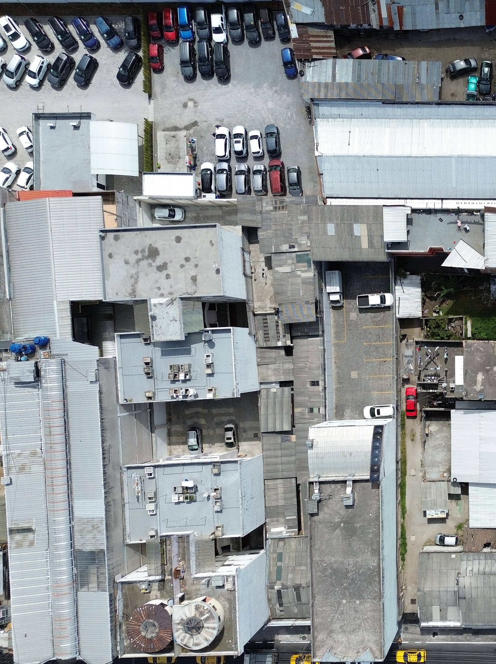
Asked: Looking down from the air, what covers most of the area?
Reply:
buildings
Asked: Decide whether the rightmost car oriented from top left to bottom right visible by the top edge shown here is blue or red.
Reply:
blue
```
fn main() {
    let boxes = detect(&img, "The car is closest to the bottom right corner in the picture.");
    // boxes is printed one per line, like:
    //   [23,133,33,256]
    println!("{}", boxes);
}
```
[397,649,426,664]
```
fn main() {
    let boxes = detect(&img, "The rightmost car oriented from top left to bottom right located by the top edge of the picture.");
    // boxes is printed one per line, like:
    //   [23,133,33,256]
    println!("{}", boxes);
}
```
[94,14,122,50]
